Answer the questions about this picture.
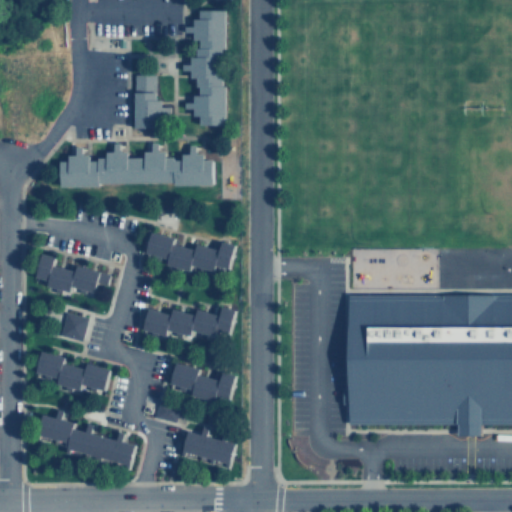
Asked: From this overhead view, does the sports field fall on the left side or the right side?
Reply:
right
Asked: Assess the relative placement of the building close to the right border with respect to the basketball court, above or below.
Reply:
below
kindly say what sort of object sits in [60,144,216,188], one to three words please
building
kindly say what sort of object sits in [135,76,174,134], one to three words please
building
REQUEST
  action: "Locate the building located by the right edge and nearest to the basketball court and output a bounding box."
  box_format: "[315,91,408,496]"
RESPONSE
[347,293,512,437]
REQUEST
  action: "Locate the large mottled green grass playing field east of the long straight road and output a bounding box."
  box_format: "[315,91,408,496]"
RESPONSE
[282,0,512,249]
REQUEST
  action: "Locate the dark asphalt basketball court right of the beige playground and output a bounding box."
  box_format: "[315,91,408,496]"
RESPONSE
[438,250,512,288]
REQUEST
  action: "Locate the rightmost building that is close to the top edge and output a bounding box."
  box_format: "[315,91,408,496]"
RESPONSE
[184,11,228,126]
